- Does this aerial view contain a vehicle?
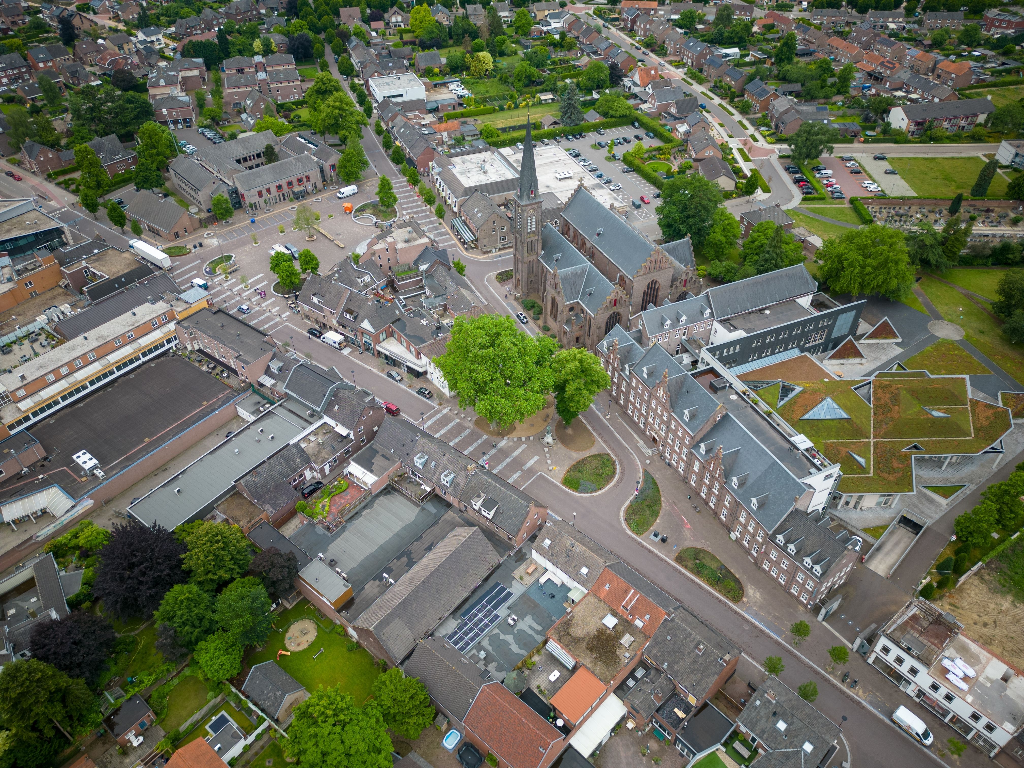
Yes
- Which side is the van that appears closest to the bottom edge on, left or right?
right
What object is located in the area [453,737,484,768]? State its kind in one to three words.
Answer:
trampoline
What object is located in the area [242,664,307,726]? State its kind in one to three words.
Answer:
house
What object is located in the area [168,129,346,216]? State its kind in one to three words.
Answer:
building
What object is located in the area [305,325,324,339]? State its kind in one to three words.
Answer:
car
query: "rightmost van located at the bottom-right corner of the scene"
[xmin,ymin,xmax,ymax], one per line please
[885,703,935,749]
